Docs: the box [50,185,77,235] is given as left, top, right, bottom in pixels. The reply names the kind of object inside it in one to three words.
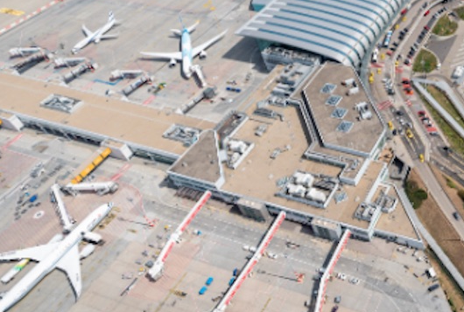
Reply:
jet bridge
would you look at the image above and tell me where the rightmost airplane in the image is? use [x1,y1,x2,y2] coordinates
[139,19,228,77]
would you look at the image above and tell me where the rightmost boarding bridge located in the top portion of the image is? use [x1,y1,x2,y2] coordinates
[178,67,214,115]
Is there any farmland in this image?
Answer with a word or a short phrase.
No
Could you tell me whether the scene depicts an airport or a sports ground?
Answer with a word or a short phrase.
airport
